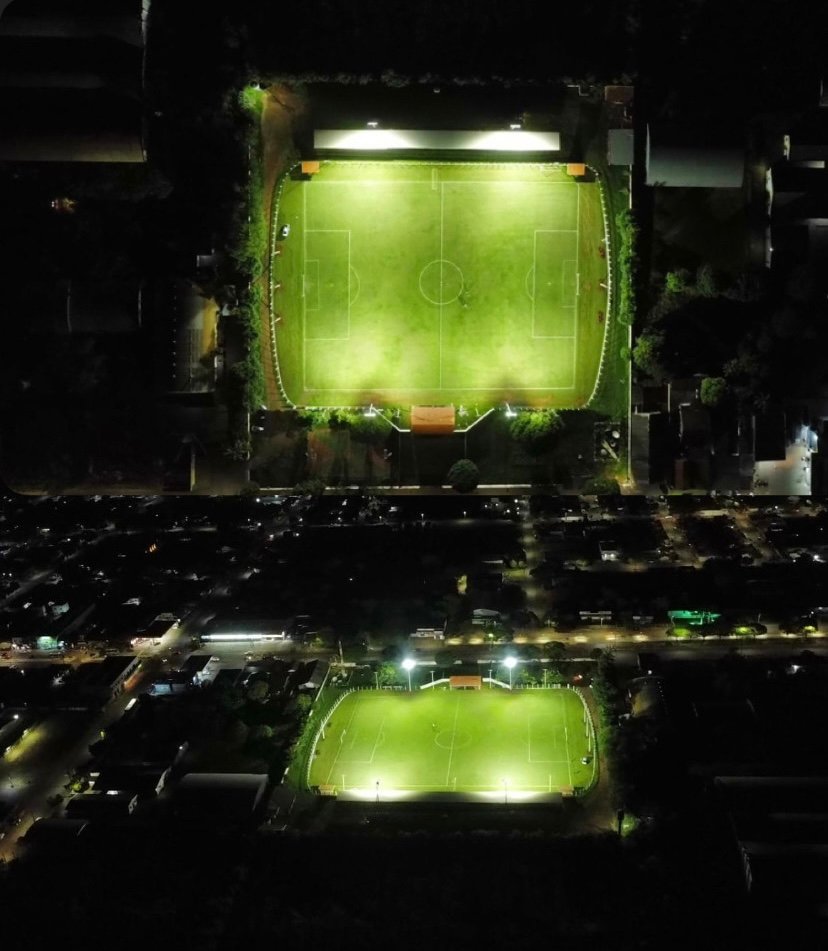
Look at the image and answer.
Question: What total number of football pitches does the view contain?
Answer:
2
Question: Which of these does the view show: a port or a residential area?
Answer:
residential area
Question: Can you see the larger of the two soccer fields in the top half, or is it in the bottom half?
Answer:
top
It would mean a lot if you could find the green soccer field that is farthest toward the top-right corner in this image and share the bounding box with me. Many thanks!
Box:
[271,163,609,408]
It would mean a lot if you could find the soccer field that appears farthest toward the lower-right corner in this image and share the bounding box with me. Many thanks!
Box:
[308,690,595,795]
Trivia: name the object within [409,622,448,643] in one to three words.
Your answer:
house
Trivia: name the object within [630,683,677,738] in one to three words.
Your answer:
shed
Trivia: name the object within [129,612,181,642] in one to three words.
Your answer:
building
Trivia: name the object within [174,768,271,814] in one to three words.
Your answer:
barn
